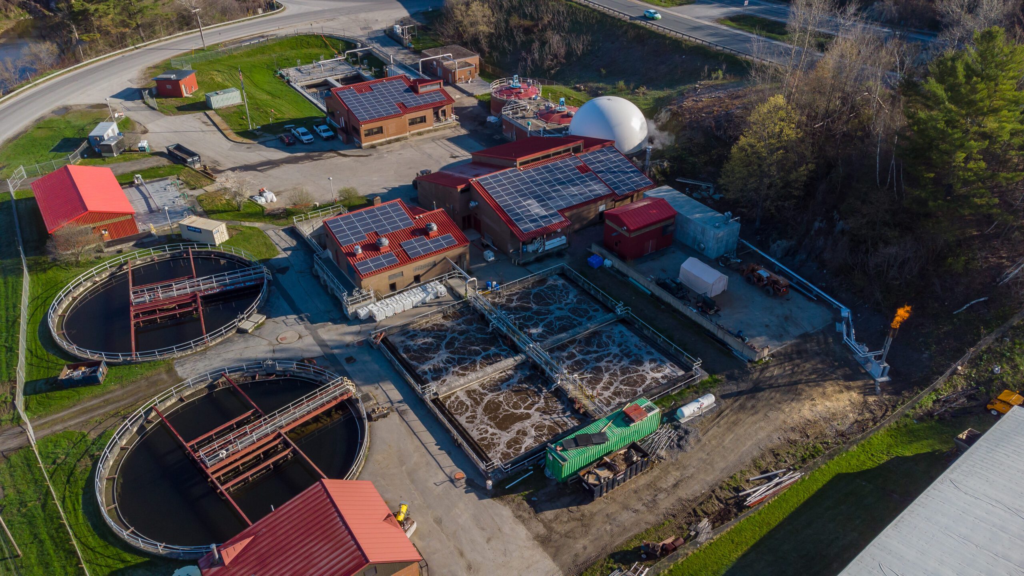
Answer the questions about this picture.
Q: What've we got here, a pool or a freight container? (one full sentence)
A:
Looking from above, you can make out a freight container.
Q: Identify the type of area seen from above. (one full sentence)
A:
It's an industrial area.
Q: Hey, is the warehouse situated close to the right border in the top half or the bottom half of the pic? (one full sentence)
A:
Seen from above, the warehouse situated close to the right border lies in the bottom half of the view.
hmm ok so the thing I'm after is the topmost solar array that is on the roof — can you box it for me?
[338,77,447,120]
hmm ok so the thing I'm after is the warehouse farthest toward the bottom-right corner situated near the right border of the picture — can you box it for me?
[829,402,1024,576]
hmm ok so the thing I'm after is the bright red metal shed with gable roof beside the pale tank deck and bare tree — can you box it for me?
[33,163,137,253]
